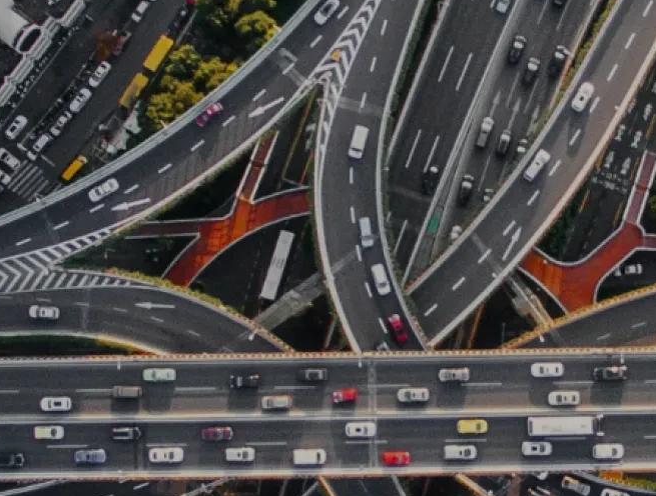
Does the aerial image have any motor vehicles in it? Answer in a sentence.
Yes, you can see a motor vehicle in this photo.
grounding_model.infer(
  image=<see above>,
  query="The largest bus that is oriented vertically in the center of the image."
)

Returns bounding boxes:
[262,228,290,298]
